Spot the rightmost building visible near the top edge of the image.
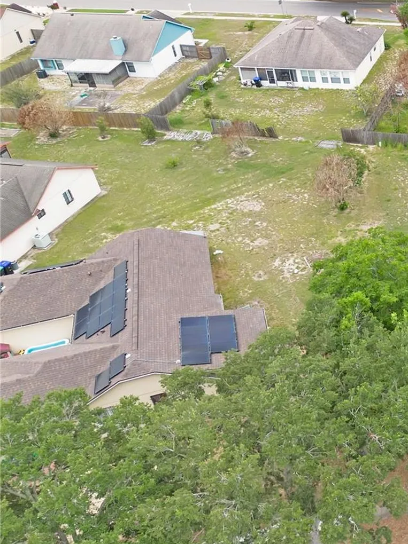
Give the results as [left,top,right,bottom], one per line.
[234,16,387,91]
